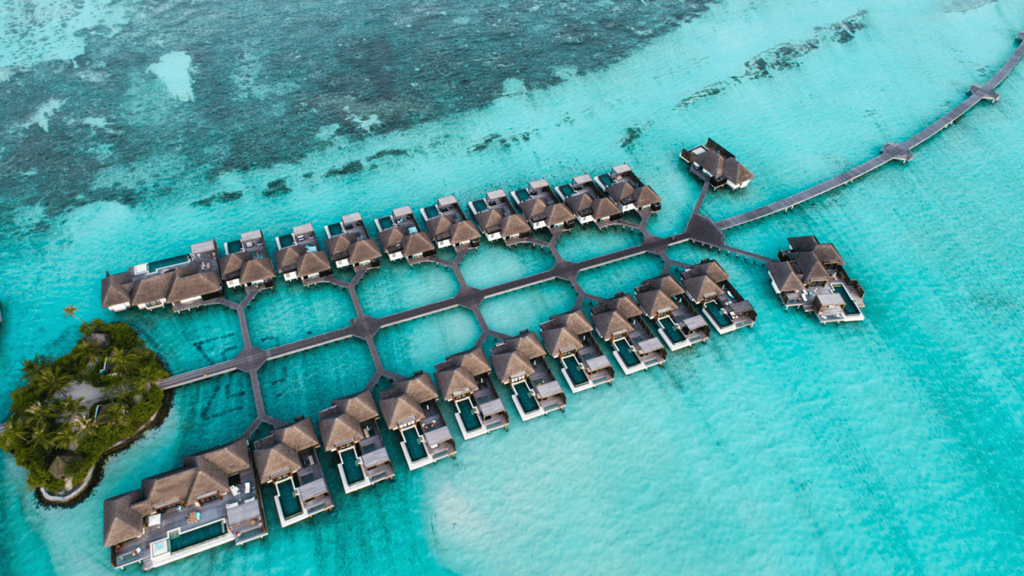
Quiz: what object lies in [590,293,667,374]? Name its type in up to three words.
house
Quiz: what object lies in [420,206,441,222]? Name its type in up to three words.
swimming pool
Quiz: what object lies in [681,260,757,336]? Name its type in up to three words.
house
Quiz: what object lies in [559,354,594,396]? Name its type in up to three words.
swimming pool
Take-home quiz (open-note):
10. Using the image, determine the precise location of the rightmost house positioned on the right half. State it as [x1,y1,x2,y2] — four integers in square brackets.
[760,234,869,329]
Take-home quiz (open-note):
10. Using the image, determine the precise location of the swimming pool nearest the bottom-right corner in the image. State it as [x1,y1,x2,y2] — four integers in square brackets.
[827,284,864,323]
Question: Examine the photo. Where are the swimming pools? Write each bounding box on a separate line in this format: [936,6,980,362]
[276,234,298,251]
[827,284,864,323]
[468,200,490,221]
[700,301,737,338]
[375,217,397,233]
[325,223,346,239]
[593,175,616,196]
[275,475,310,530]
[511,190,532,211]
[338,445,371,496]
[610,337,646,378]
[689,146,707,156]
[554,185,576,206]
[420,206,441,222]
[454,397,487,443]
[654,316,691,354]
[559,354,594,396]
[511,379,545,424]
[400,424,434,473]
[225,240,246,254]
